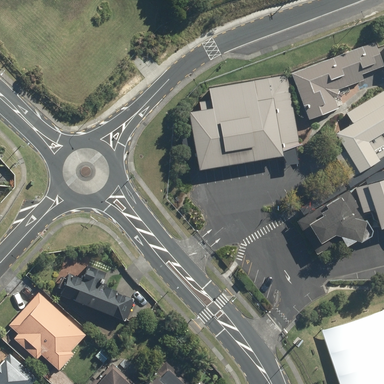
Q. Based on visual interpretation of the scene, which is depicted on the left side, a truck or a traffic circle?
traffic circle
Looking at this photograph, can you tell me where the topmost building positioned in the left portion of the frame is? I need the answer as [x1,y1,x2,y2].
[60,267,133,322]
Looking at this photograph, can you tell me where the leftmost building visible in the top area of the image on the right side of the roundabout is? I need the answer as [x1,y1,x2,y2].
[190,76,301,170]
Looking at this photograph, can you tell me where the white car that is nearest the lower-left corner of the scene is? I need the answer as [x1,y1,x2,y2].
[12,292,25,308]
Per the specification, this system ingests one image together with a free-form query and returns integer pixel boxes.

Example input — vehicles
[132,290,148,306]
[20,284,33,300]
[12,292,25,308]
[258,276,274,294]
